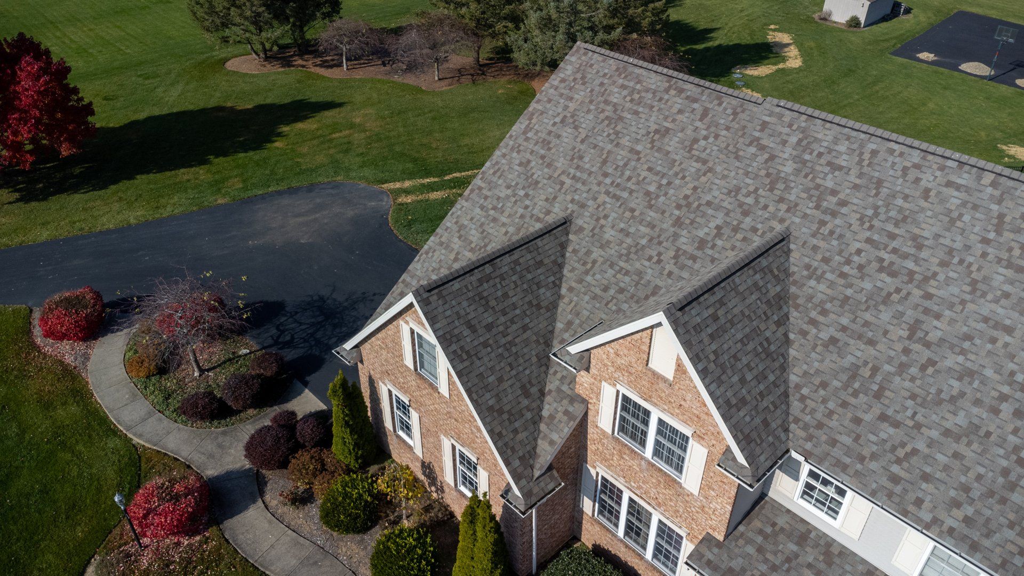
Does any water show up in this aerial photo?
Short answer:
No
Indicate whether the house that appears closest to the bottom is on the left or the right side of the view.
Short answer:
right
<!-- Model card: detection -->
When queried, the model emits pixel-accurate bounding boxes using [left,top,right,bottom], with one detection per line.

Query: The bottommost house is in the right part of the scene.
[331,40,1024,576]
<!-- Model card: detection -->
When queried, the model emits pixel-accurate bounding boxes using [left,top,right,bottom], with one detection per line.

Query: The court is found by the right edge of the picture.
[890,10,1024,90]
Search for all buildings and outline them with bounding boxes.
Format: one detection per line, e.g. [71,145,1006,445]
[331,40,1024,576]
[822,0,901,27]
